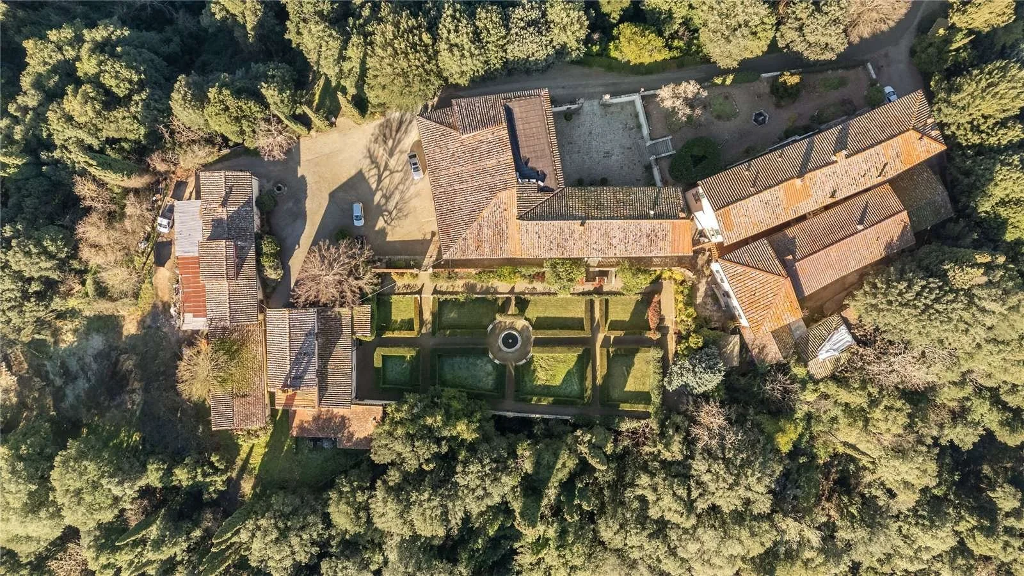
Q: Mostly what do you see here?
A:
trees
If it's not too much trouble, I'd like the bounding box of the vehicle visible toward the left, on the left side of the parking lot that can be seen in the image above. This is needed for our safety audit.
[154,203,173,232]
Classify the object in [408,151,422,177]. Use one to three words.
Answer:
car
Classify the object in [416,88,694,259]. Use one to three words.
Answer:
house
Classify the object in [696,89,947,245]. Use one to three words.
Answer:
house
